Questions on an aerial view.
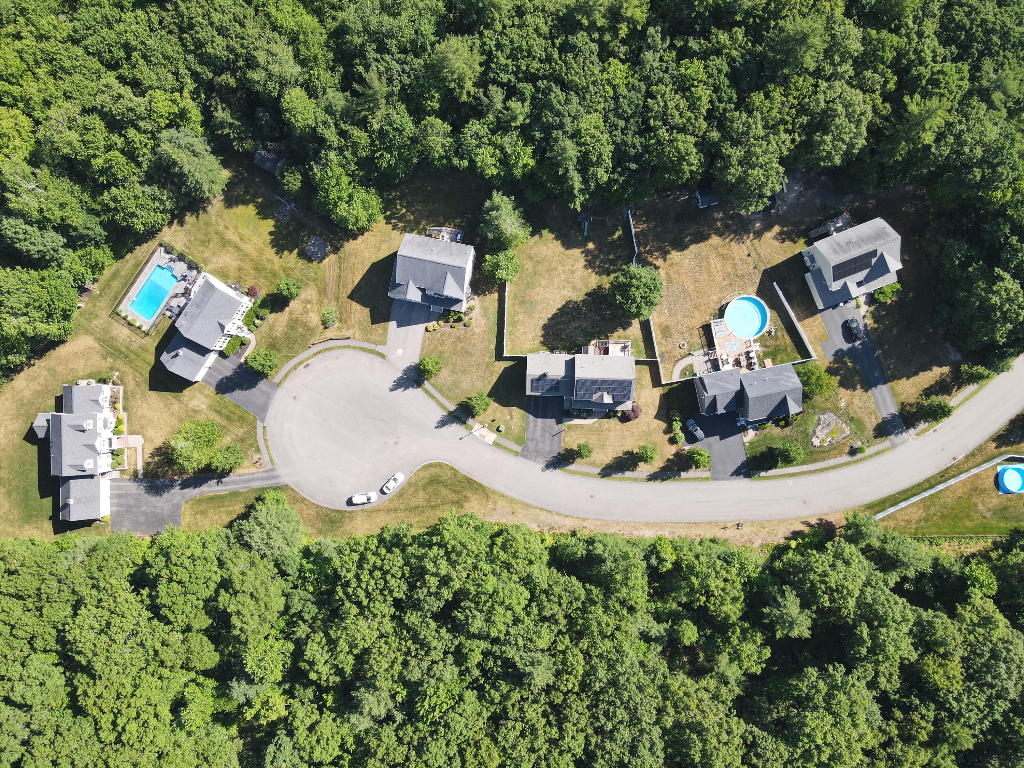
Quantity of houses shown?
six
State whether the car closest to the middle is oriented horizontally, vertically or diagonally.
diagonally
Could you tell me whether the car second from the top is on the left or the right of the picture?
right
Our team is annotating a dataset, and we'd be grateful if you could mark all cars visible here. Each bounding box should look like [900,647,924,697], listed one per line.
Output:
[383,471,405,494]
[847,317,866,341]
[685,417,705,443]
[352,491,378,504]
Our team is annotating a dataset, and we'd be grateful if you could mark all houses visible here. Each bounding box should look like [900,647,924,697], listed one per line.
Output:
[159,271,253,381]
[802,217,903,309]
[695,364,803,426]
[525,353,636,412]
[32,386,124,521]
[388,233,472,314]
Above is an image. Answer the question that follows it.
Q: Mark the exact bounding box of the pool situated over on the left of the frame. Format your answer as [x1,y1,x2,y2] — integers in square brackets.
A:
[128,264,178,324]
